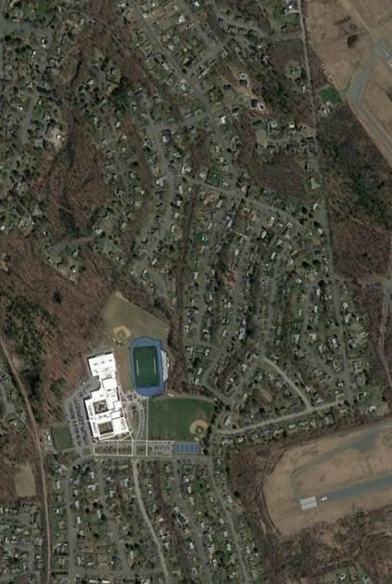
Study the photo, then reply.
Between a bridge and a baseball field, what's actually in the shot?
baseball field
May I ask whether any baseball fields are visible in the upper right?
No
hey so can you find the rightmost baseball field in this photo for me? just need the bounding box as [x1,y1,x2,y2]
[149,397,216,443]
